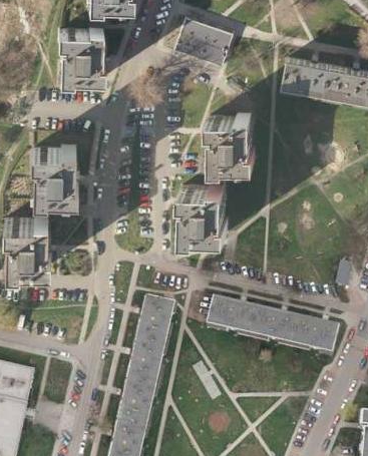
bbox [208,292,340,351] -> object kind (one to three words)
building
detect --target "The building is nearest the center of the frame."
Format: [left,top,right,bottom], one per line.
[174,184,227,253]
